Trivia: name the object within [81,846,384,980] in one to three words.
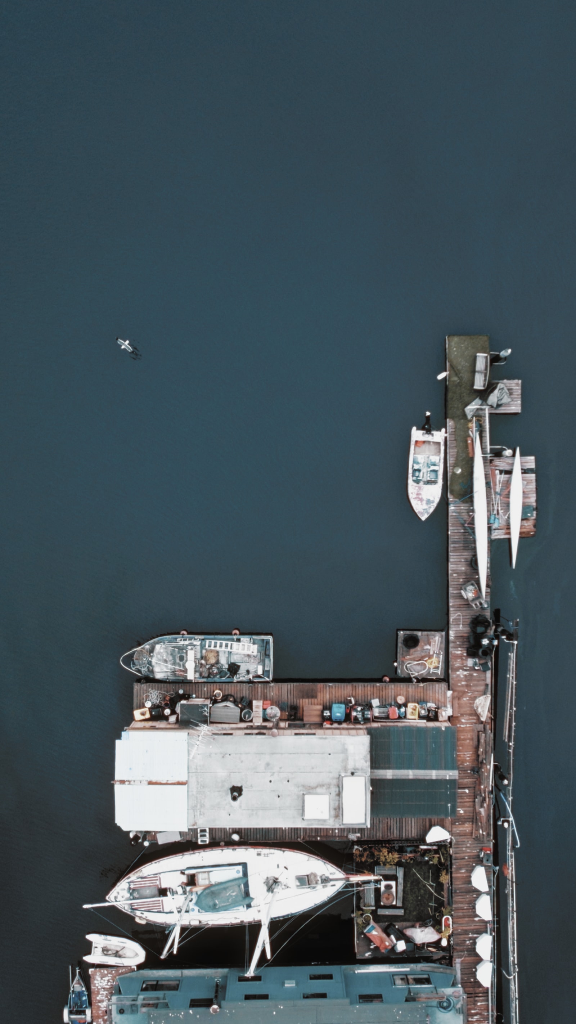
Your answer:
boat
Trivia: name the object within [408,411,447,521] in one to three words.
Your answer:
boat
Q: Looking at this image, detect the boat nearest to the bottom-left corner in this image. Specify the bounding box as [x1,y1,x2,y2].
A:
[63,965,91,1024]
